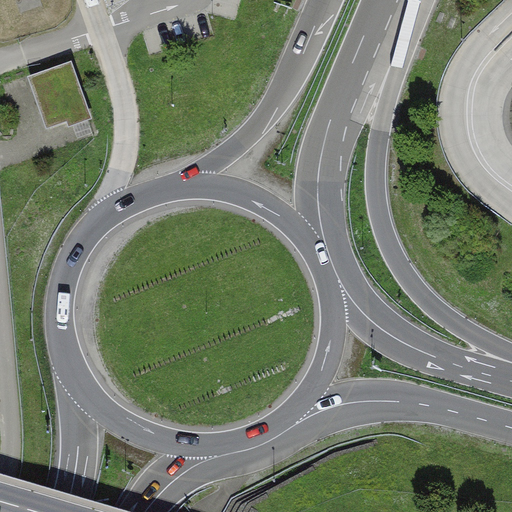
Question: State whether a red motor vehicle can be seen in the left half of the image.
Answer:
Yes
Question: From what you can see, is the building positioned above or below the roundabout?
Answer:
above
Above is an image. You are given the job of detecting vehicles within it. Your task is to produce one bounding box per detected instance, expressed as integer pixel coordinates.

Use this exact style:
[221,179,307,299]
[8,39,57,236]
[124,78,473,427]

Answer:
[172,21,184,44]
[180,166,200,180]
[294,31,308,54]
[142,481,161,502]
[176,435,199,446]
[246,424,268,438]
[167,456,186,476]
[56,293,70,330]
[197,14,210,38]
[68,244,84,266]
[392,0,421,68]
[87,0,99,8]
[114,196,135,210]
[316,243,328,264]
[318,396,342,410]
[156,22,170,44]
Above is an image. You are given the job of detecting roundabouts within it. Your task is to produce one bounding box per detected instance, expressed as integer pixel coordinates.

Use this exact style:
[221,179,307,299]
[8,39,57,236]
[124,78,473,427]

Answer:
[45,171,348,460]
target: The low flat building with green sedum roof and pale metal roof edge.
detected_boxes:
[28,61,91,128]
